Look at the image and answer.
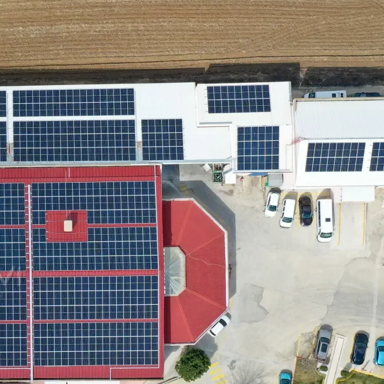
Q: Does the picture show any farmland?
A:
Yes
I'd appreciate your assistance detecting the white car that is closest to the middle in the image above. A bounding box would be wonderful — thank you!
[264,189,279,217]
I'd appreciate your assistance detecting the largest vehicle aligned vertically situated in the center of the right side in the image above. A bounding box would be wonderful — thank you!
[315,199,333,241]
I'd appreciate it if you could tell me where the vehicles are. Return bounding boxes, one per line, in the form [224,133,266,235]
[374,338,384,364]
[208,312,234,340]
[299,196,314,226]
[278,371,290,384]
[303,86,350,100]
[316,330,331,360]
[315,199,333,241]
[264,189,279,217]
[279,198,297,229]
[351,87,381,100]
[352,333,367,363]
